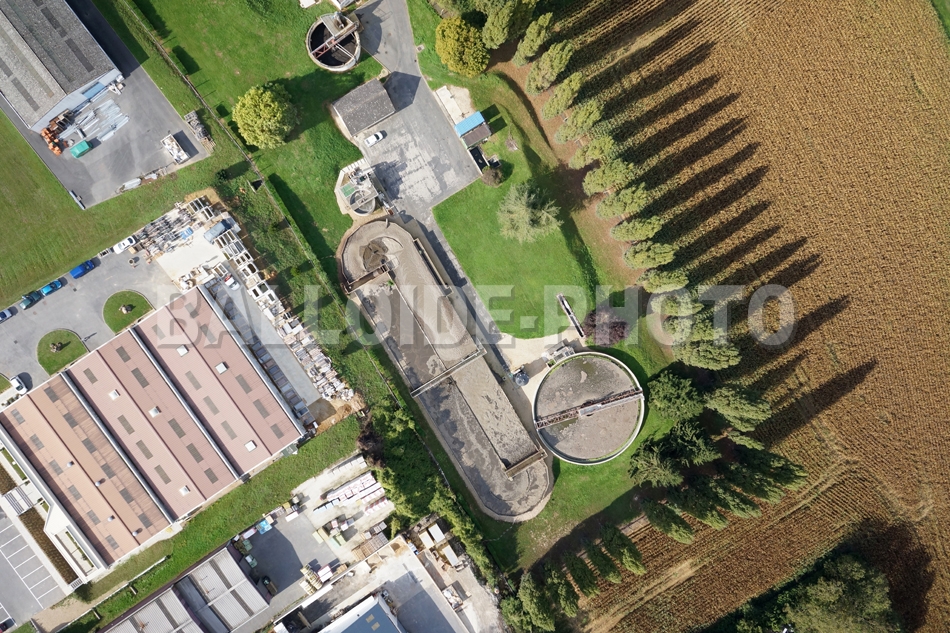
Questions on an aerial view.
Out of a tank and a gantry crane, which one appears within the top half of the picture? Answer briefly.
tank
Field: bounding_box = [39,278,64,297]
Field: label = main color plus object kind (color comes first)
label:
blue car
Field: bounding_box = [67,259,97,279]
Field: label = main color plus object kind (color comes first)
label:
blue vehicle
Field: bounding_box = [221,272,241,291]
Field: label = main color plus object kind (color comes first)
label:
white vehicle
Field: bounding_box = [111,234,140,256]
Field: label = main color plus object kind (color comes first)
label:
white car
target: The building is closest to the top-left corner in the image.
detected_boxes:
[0,0,122,130]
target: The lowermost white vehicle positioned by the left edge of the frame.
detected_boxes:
[7,375,31,394]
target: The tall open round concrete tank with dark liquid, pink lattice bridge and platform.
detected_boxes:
[305,10,365,76]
